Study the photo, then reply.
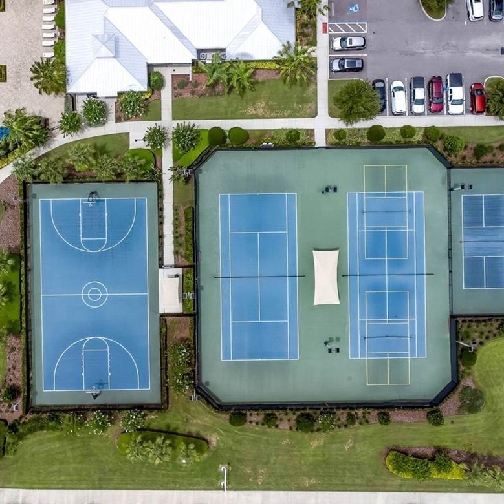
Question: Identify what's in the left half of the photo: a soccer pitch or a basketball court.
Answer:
basketball court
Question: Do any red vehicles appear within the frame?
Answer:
Yes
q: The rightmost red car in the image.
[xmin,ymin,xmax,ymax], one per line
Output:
[469,83,486,115]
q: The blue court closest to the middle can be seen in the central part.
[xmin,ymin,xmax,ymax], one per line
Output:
[214,193,305,362]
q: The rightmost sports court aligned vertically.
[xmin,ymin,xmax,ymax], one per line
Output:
[460,195,504,289]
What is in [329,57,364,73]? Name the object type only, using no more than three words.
car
